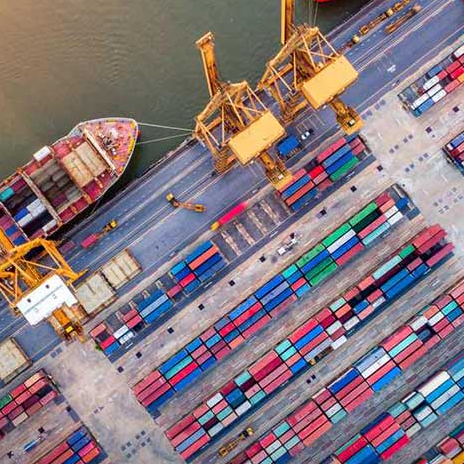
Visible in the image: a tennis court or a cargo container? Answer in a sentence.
This aerial view contains a cargo container.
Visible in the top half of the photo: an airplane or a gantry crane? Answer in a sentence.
Looking in the top half of the photo, you will find a gantry crane.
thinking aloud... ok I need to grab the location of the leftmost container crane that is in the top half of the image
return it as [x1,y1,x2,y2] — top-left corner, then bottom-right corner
[189,27,293,186]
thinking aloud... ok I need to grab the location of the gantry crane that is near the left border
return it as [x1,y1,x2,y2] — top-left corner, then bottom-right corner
[0,224,94,346]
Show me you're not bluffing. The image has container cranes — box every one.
[0,224,94,346]
[249,0,364,131]
[189,27,293,186]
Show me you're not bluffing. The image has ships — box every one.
[309,0,337,8]
[0,117,141,277]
